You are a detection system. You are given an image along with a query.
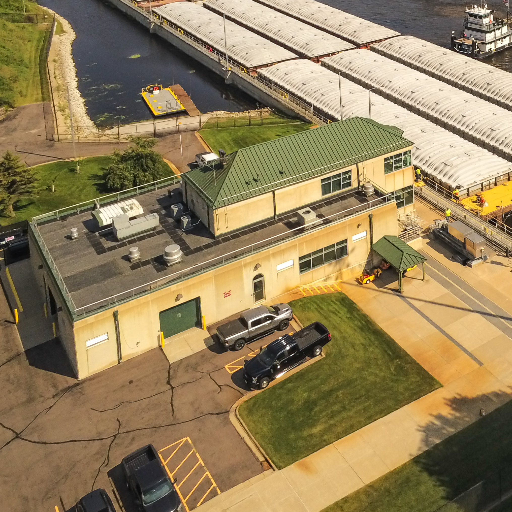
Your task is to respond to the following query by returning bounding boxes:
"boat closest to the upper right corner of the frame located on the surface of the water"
[445,0,512,57]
